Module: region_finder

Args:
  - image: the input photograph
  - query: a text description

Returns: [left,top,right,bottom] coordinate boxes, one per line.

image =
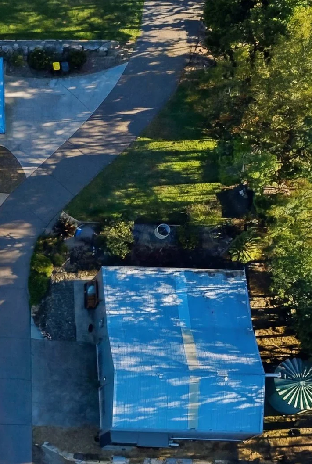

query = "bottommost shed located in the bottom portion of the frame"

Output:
[98,263,282,451]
